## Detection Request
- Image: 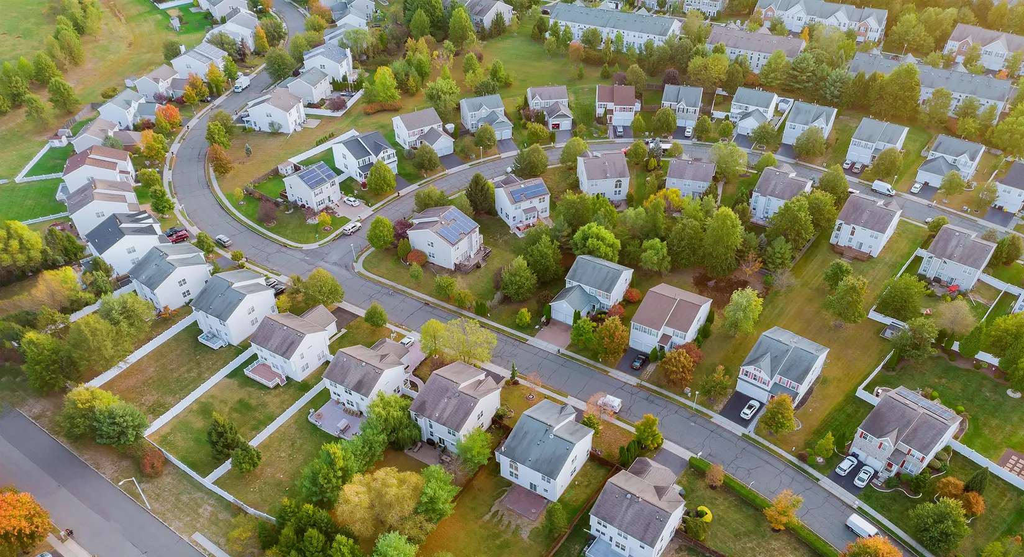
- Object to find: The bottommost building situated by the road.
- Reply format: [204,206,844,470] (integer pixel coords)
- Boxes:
[572,455,682,557]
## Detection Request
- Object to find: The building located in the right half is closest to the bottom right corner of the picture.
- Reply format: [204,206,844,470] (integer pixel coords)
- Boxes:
[854,381,962,479]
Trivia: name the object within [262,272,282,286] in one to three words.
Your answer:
car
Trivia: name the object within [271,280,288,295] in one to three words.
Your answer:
car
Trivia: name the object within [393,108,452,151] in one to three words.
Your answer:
house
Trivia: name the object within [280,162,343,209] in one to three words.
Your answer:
house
